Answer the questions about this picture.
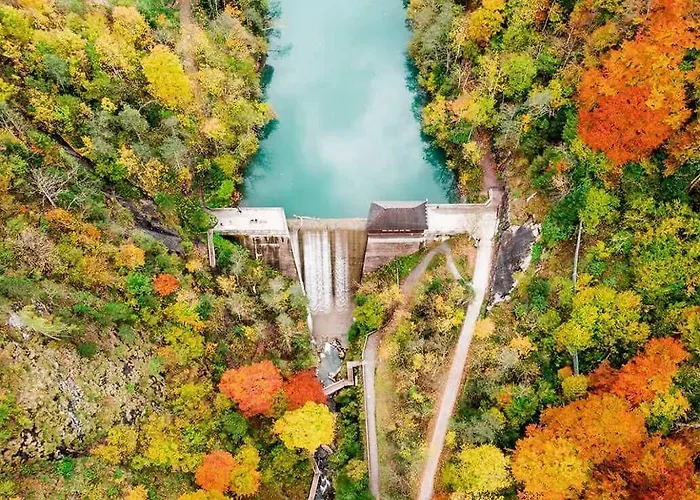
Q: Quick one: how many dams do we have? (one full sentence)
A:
In total, there is 1 dam in the scene.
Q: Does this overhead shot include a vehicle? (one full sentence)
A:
No, I find no vehicle anywhere in the image.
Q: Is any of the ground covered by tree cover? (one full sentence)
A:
Yes, tree cover shows up in the scene.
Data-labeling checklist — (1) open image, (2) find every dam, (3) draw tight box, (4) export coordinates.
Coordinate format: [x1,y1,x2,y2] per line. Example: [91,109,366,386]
[208,186,489,350]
